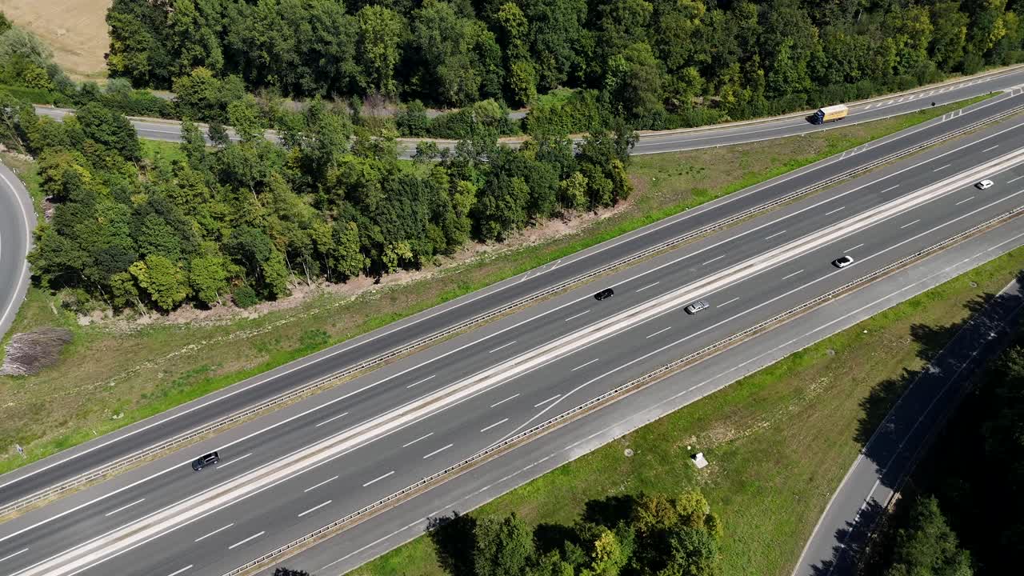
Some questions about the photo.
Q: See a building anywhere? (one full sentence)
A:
No, this view has no building in it.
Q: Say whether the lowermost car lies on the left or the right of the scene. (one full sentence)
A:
The lowermost car appears in the left half of the scene.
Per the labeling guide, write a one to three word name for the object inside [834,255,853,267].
vehicle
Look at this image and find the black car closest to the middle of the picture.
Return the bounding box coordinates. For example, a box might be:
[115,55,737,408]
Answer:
[592,288,613,302]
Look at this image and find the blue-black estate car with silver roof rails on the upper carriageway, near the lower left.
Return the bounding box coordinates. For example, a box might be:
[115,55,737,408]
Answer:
[191,451,219,471]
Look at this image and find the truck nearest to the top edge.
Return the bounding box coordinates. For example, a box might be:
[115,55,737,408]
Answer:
[815,101,857,123]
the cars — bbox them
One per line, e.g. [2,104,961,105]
[975,179,992,189]
[687,298,709,311]
[834,255,853,267]
[592,288,613,302]
[191,451,219,471]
